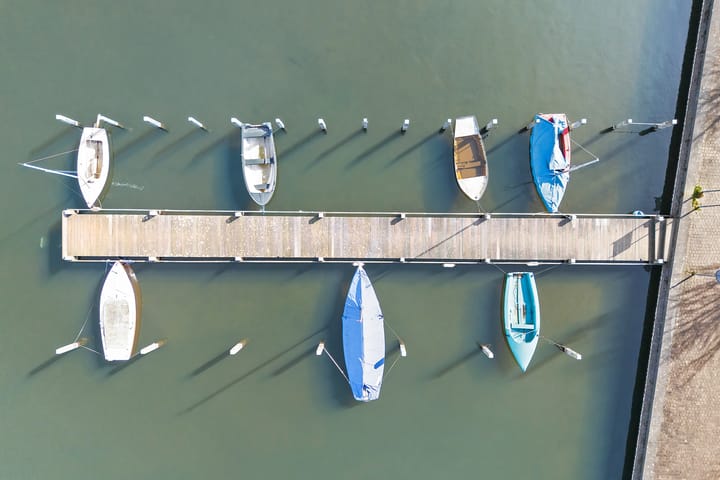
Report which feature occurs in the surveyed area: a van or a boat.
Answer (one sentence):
The one in the frame is a boat.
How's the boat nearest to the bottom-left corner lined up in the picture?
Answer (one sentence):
In this picture, the boat nearest to the bottom-left corner lies vertically.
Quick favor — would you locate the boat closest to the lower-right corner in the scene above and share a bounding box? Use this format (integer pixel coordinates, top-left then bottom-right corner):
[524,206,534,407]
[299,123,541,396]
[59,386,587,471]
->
[503,272,540,373]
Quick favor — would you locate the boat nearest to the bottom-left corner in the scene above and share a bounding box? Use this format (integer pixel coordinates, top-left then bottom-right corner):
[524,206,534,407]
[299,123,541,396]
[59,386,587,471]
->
[98,261,139,363]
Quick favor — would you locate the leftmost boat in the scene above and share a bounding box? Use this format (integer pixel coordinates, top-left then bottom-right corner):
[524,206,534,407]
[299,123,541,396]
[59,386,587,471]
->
[20,113,112,209]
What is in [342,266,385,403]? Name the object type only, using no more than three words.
boat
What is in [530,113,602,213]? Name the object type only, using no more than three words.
boat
